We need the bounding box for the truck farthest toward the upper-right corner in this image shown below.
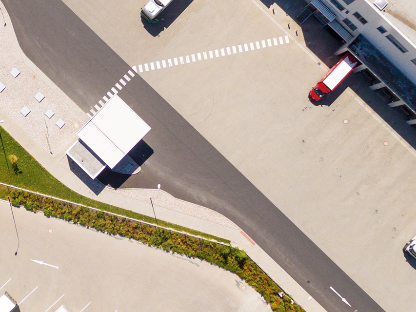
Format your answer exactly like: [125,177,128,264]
[310,54,358,102]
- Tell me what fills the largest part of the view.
paved ground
